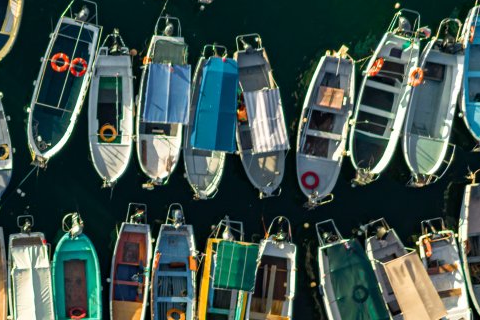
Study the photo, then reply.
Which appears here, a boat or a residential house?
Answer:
boat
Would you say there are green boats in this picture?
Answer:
Yes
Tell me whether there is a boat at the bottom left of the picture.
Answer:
Yes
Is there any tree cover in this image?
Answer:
No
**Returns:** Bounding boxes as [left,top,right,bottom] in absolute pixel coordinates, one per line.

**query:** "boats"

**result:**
[351,8,421,182]
[296,55,355,205]
[184,35,239,204]
[0,227,8,320]
[400,18,465,189]
[316,219,391,320]
[251,215,301,320]
[150,202,198,320]
[87,28,135,188]
[234,30,291,199]
[9,211,54,320]
[0,98,14,199]
[364,215,451,320]
[461,166,480,315]
[201,217,262,320]
[418,214,477,320]
[28,0,102,166]
[49,213,102,320]
[109,202,153,320]
[140,16,191,188]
